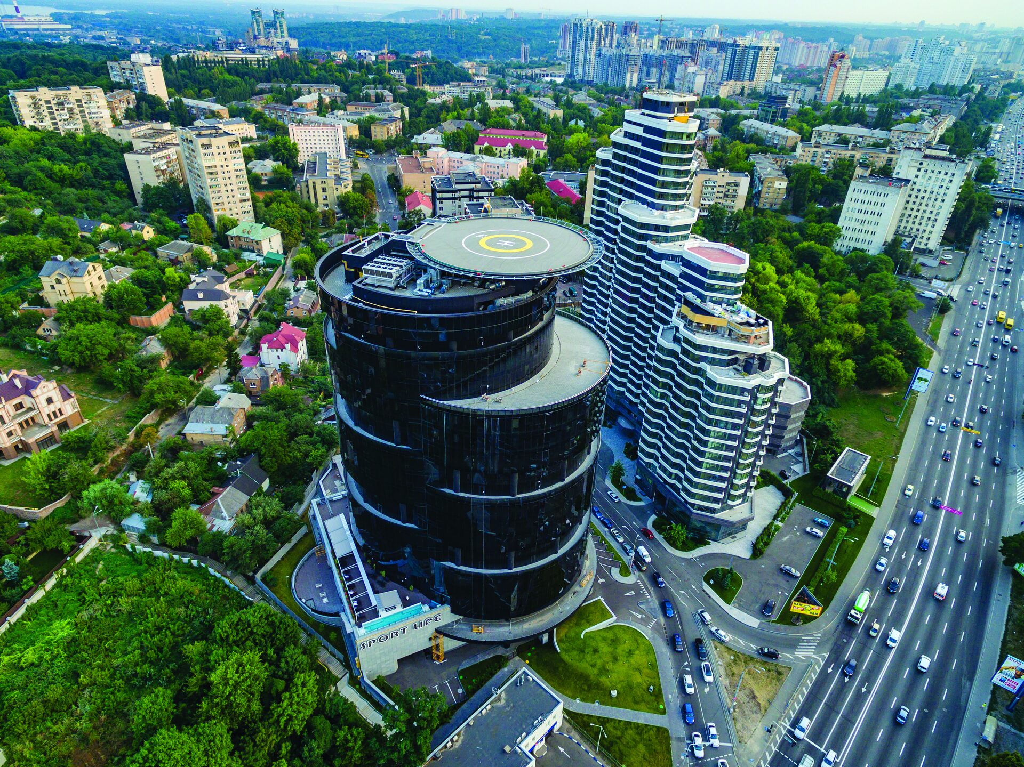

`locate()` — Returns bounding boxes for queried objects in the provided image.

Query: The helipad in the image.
[382,214,603,306]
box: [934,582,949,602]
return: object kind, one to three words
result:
vehicle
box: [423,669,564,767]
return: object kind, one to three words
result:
building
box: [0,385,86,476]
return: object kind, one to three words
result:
house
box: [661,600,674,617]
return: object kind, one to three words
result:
vehicle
